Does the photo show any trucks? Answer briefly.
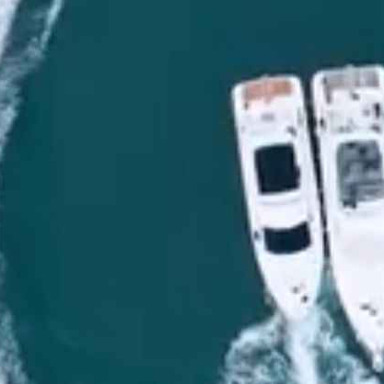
No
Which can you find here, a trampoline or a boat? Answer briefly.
boat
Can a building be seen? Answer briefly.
No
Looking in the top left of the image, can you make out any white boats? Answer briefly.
No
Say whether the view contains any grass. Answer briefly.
No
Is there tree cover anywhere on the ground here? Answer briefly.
No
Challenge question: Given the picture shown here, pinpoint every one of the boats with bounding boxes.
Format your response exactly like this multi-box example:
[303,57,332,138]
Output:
[234,75,323,325]
[313,65,384,370]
